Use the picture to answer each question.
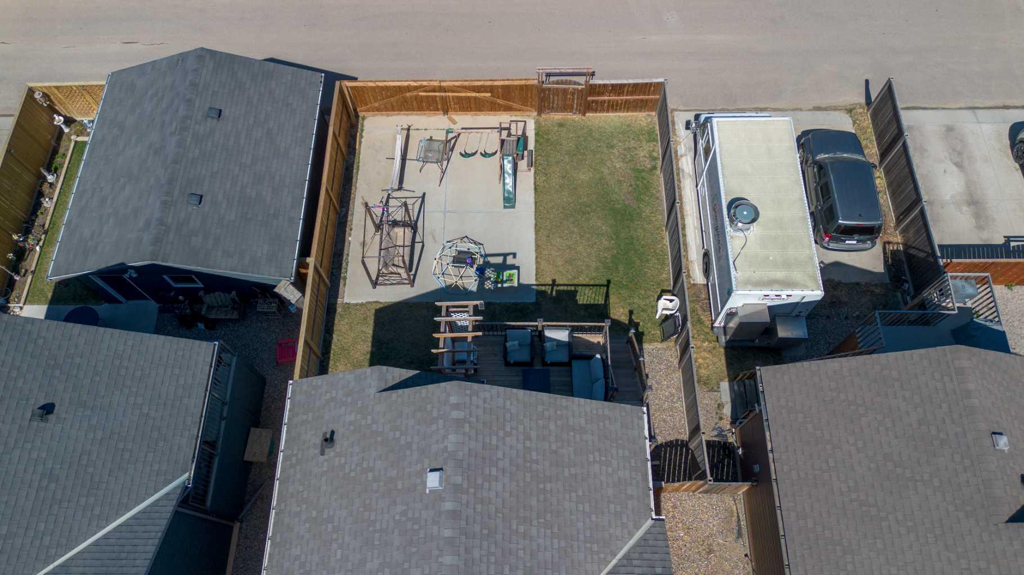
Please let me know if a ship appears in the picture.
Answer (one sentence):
No, there's no ship here.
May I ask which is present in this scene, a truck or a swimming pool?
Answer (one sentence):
Looking from above, you can make out a truck.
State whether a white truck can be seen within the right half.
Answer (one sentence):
Yes, you'll find a white truck within the right half.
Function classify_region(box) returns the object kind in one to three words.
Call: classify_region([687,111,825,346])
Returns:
truck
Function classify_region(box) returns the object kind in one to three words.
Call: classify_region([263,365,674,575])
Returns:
house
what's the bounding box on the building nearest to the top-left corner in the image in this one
[47,46,327,307]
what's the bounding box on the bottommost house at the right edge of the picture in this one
[727,344,1024,575]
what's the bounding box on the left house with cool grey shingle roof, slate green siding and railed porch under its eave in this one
[0,313,261,575]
